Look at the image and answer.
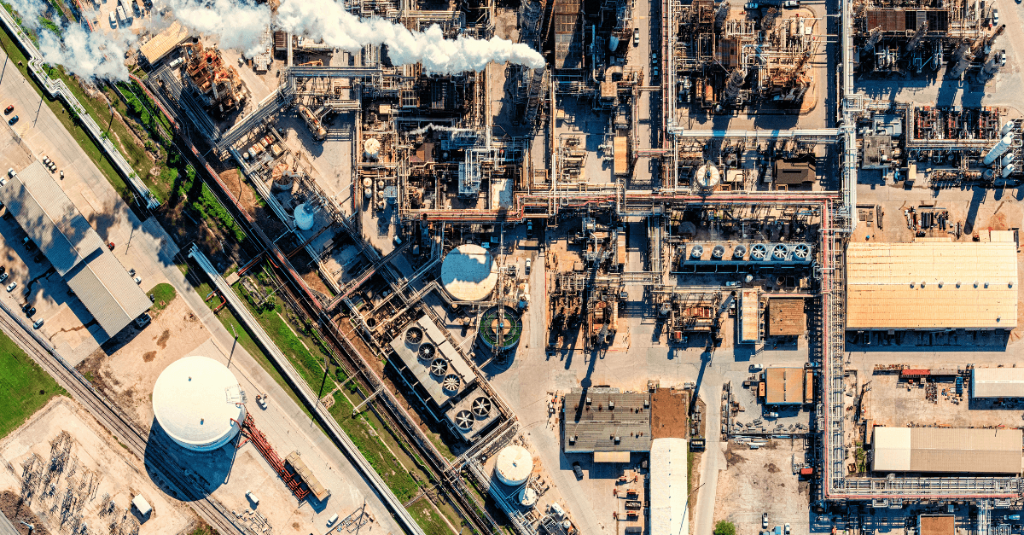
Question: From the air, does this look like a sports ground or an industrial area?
industrial area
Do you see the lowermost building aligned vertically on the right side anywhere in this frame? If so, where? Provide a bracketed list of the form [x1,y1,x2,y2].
[648,438,687,535]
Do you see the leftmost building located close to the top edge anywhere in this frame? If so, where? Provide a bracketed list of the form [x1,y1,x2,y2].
[140,19,187,71]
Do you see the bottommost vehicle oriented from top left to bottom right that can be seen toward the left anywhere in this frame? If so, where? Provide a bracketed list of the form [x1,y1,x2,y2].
[245,490,260,505]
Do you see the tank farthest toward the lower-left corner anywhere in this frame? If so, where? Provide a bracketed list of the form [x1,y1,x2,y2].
[152,354,249,457]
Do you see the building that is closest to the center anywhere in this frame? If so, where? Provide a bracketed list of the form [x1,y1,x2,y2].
[492,179,512,212]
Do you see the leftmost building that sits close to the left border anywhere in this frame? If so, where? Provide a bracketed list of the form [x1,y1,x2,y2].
[0,160,104,282]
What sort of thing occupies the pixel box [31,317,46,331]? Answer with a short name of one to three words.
vehicle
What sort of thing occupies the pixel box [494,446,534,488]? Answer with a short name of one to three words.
storage tank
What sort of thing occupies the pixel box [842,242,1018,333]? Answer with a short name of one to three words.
building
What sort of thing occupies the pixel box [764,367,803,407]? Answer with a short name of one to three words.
building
